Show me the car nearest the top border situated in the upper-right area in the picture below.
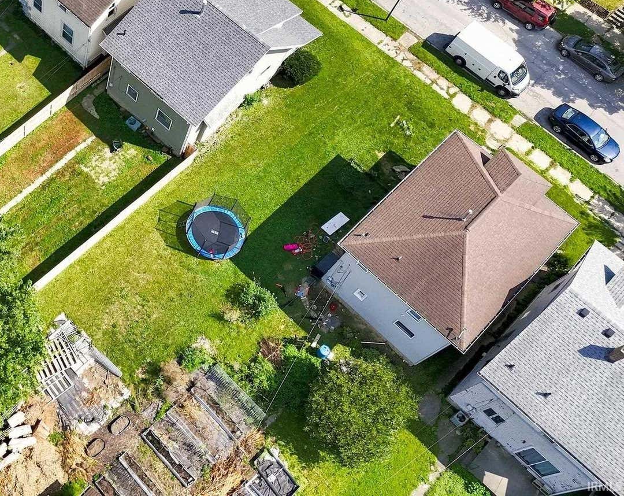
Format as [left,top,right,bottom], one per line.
[493,0,558,32]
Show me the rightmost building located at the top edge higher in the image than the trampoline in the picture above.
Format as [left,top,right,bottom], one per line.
[99,0,320,154]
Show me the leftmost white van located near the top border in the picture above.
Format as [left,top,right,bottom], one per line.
[450,22,536,101]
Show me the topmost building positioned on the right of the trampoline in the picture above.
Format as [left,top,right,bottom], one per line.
[322,127,580,365]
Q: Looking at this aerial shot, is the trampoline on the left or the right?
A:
left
